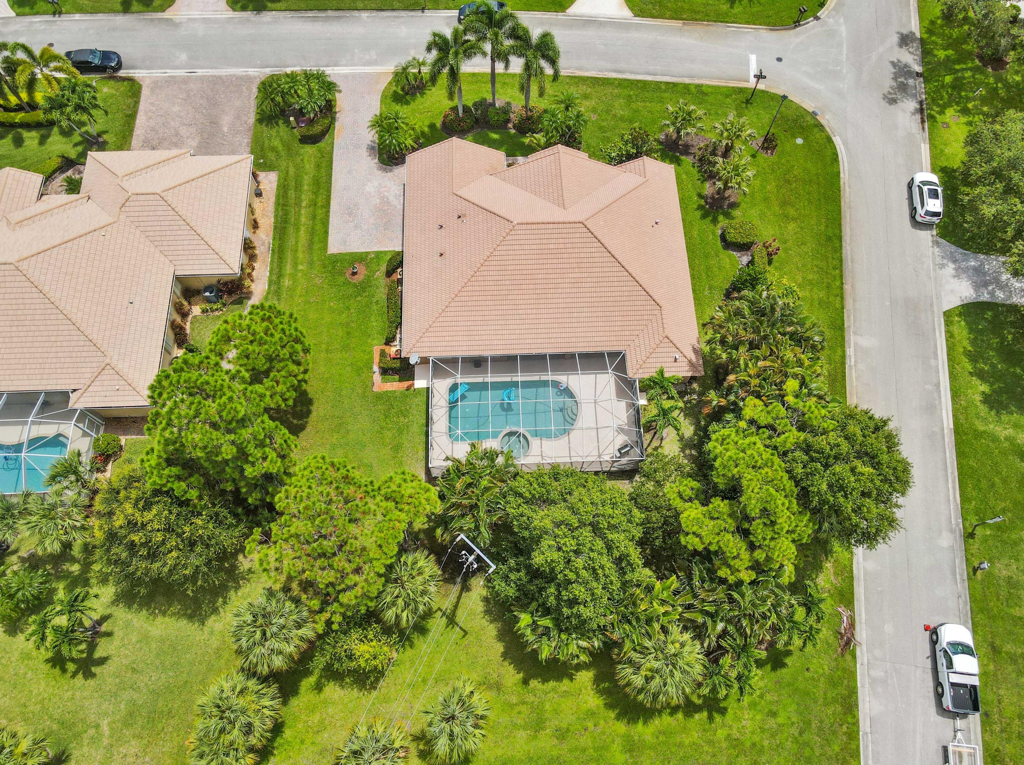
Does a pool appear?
Yes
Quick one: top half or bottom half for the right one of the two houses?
top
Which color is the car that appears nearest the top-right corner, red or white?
white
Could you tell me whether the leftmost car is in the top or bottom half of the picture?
top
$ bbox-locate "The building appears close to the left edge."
[0,148,257,414]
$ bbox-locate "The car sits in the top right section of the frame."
[908,175,944,229]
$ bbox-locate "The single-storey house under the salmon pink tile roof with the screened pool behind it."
[401,132,706,384]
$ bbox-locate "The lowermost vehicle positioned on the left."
[63,48,124,77]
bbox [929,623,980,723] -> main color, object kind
white truck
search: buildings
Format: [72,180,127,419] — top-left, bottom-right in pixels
[0,148,257,414]
[401,132,706,384]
